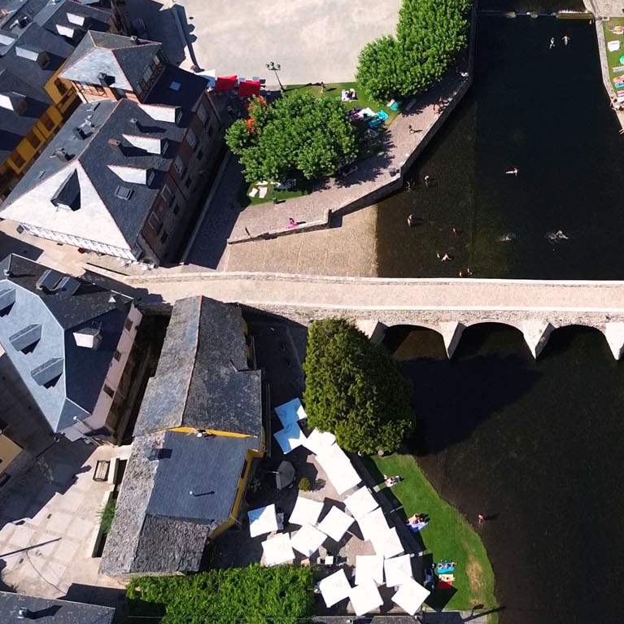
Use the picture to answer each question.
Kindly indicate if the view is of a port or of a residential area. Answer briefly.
residential area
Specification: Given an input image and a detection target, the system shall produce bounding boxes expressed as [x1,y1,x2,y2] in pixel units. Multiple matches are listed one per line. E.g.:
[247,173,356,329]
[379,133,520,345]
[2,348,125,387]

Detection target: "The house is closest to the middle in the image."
[132,297,274,454]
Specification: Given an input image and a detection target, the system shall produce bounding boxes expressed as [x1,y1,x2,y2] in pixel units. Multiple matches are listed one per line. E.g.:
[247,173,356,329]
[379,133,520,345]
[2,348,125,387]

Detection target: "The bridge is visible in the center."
[117,270,624,363]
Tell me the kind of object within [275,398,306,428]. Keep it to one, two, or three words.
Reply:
umbrella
